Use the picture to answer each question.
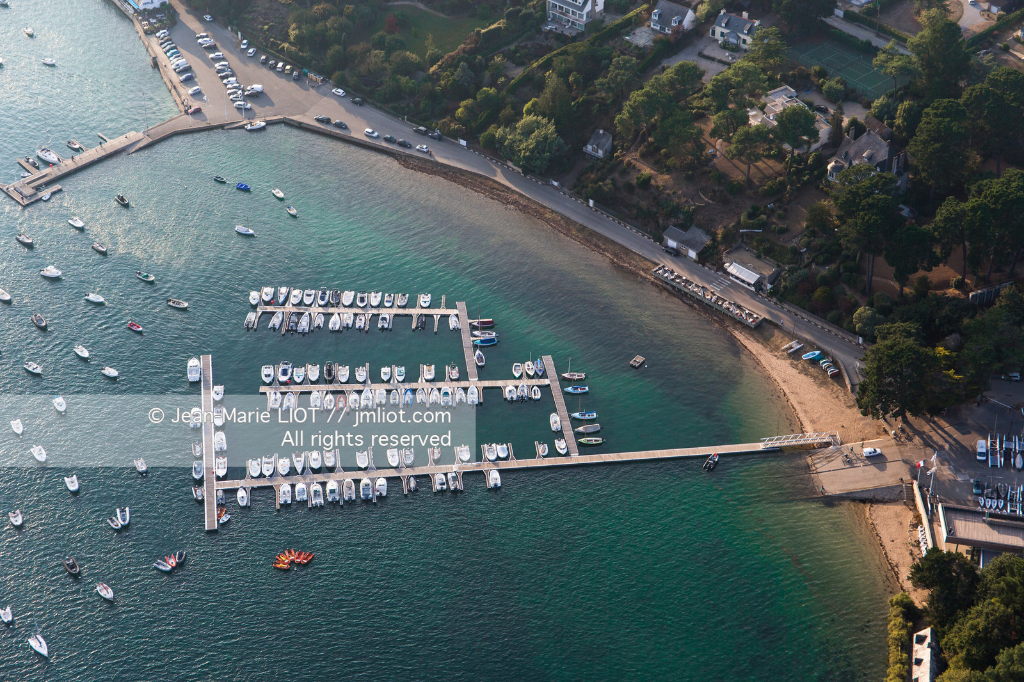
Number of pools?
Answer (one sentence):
No pools are visible.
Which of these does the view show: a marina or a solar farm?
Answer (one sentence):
What you see here is a marina.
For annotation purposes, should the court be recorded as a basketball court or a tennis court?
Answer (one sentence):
In the photo, the court shows up as a tennis court.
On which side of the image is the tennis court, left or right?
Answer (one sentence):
The tennis court sits on the right side.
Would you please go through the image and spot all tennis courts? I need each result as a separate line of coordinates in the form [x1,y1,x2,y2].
[780,26,923,100]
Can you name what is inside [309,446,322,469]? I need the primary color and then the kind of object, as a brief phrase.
white boat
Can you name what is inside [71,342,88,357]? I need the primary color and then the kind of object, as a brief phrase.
white boat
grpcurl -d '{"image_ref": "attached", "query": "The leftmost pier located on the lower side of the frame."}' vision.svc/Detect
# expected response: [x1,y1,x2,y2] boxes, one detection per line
[200,355,218,531]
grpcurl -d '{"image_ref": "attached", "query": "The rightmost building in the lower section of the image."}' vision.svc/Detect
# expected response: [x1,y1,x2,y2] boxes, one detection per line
[936,505,1024,581]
